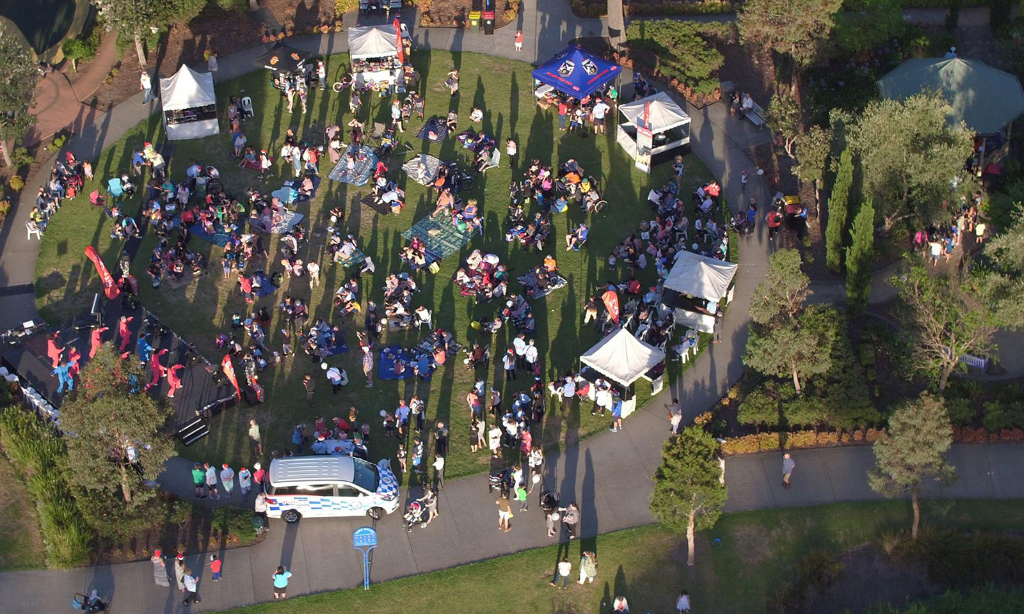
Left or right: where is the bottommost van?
left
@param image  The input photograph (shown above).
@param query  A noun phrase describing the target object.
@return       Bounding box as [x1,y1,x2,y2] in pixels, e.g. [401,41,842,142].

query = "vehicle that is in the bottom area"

[260,456,405,525]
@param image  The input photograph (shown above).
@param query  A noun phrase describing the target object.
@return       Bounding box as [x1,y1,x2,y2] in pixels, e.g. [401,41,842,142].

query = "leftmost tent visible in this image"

[158,67,222,140]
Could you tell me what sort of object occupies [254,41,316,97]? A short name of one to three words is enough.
gazebo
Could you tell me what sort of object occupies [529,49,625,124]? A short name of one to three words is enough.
gazebo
